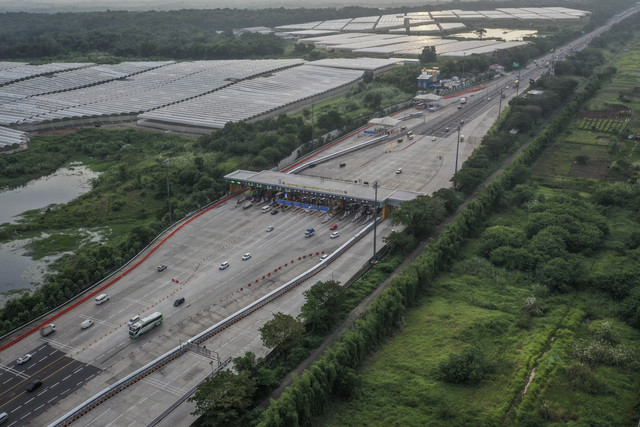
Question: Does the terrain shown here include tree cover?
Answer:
Yes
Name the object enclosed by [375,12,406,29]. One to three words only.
greenhouse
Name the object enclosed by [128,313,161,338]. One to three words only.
bus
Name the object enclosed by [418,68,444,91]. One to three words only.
building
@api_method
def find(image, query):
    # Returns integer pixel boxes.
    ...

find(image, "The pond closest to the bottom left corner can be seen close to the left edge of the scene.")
[0,234,68,303]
